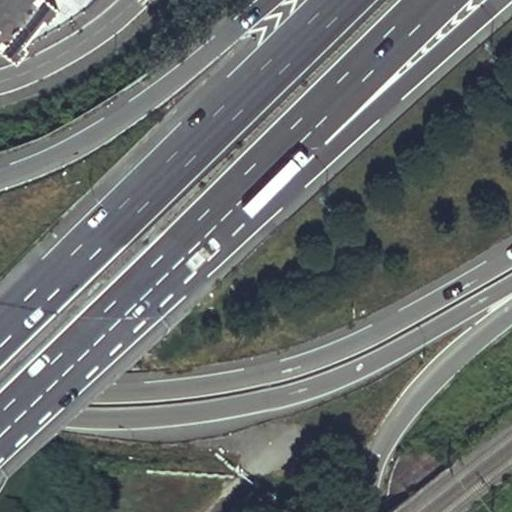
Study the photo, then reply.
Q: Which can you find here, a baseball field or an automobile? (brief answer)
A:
automobile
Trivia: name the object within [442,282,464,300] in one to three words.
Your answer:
car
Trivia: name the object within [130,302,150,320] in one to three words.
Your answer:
car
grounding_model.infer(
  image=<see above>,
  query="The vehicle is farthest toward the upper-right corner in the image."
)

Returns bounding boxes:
[374,36,395,56]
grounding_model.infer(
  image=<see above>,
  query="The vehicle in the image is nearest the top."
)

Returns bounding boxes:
[240,6,261,28]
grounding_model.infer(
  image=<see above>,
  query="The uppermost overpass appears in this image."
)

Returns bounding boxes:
[0,302,169,484]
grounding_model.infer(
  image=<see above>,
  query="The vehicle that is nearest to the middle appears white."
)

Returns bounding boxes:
[188,240,220,270]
